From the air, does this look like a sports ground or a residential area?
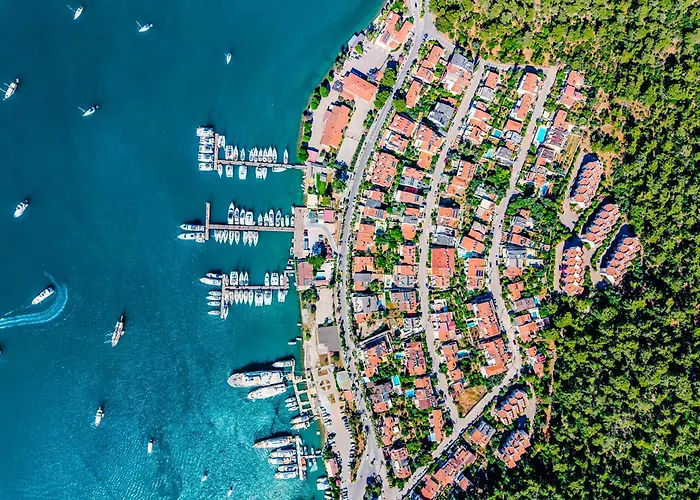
residential area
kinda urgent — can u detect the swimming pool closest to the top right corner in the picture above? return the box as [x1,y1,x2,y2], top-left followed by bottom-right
[535,125,549,144]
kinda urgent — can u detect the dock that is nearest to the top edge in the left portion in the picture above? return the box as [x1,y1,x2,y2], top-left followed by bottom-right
[213,133,306,170]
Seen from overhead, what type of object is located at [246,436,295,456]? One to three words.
boat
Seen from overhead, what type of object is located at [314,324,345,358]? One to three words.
building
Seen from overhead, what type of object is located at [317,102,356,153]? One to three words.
building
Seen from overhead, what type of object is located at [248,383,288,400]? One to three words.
ship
